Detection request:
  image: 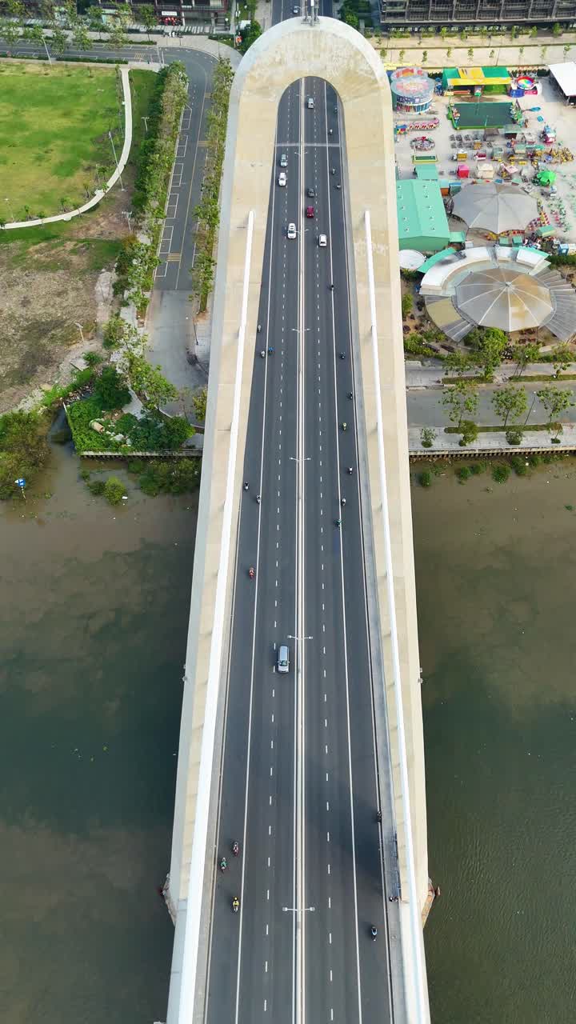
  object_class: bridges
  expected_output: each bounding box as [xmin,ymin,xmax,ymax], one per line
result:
[157,0,443,1024]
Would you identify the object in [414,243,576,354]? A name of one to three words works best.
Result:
building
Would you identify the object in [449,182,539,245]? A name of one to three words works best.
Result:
tent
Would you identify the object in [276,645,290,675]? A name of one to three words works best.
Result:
vehicle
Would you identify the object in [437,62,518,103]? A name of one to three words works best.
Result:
building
